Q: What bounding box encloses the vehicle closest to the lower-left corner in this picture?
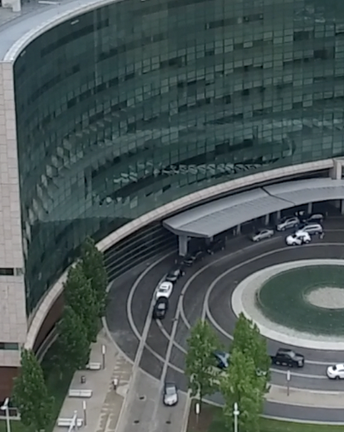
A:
[160,381,180,407]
